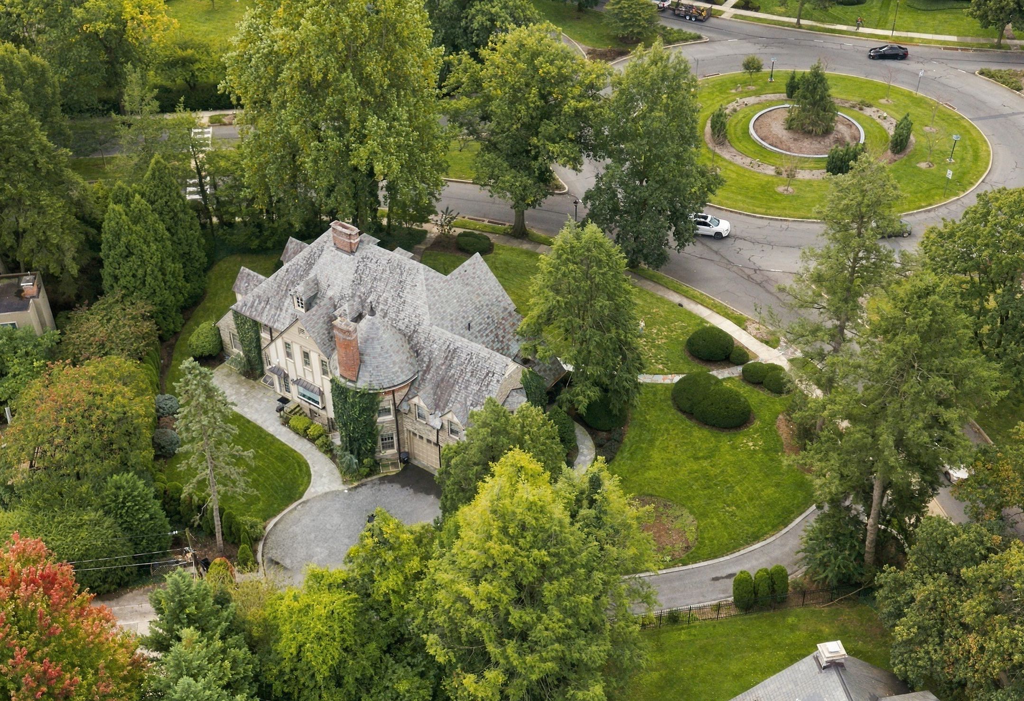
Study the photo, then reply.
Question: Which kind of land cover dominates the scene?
trees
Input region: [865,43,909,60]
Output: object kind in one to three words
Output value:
car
